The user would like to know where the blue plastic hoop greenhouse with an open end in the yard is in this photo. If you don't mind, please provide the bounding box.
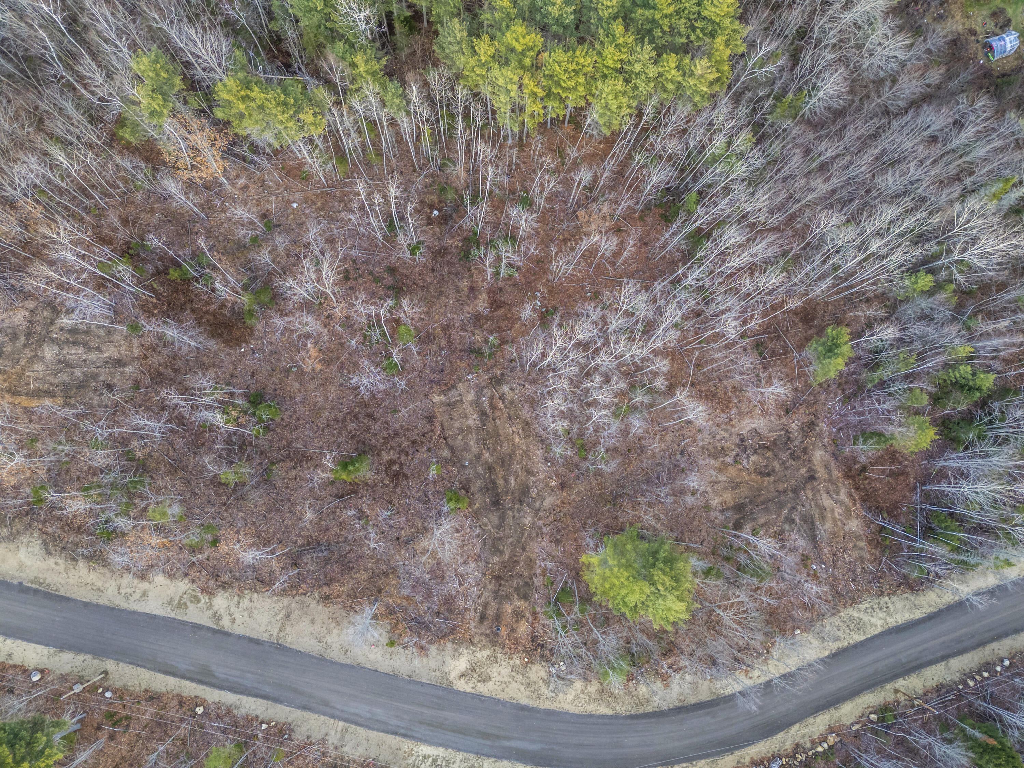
[983,28,1024,61]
